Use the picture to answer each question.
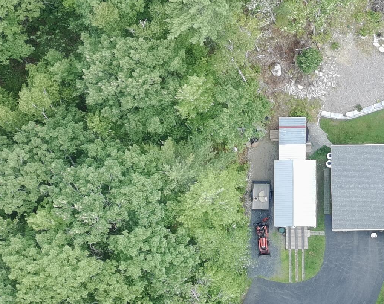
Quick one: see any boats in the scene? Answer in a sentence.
No, I can see no boat in this picture.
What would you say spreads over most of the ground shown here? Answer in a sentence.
What you mostly see from above here is trees.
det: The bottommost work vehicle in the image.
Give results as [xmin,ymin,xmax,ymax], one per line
[253,227,269,258]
